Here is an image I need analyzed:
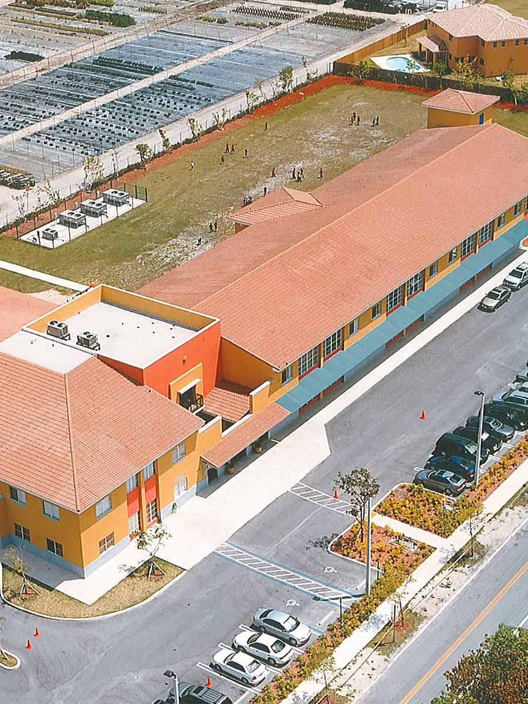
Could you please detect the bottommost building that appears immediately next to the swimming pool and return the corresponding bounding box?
[0,87,528,576]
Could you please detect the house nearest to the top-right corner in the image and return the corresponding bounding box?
[416,10,528,76]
